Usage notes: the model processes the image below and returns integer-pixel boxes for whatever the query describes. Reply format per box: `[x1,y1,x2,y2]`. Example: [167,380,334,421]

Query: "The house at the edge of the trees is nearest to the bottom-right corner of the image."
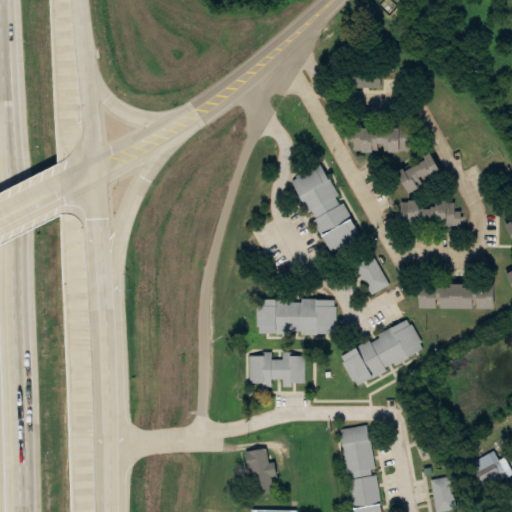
[480,452,512,482]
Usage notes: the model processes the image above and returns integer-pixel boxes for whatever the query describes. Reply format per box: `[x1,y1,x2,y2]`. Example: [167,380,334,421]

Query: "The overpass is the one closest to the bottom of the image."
[0,163,60,245]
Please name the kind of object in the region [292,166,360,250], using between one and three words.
building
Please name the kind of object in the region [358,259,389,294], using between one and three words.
house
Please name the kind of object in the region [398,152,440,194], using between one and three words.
building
